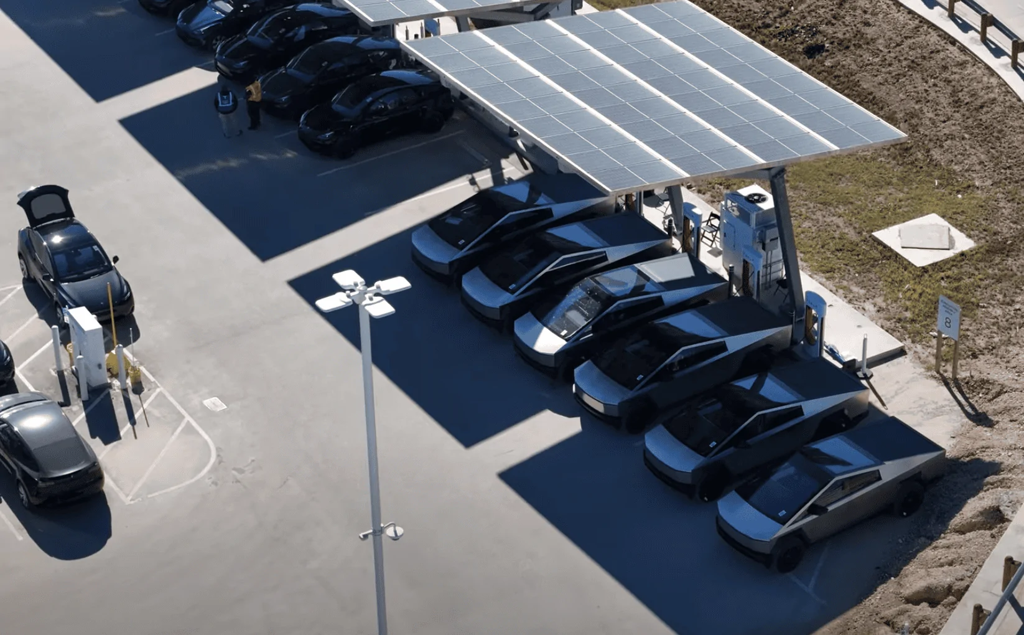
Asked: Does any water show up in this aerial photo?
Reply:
No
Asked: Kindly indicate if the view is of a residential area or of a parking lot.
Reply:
parking lot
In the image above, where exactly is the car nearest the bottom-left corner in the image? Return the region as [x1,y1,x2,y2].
[0,393,107,511]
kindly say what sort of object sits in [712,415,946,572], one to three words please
truck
